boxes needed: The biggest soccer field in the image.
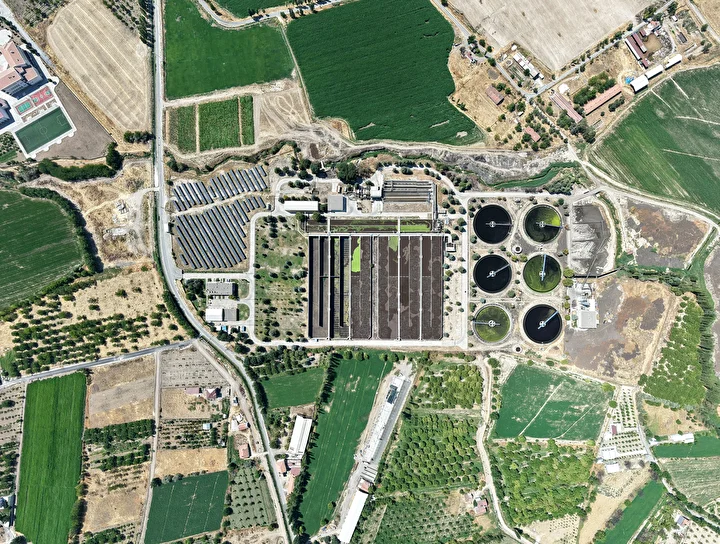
[15,108,72,153]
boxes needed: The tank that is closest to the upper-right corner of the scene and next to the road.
[522,205,562,244]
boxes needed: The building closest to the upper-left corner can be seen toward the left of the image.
[0,40,38,97]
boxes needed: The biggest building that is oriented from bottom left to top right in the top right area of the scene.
[584,84,623,115]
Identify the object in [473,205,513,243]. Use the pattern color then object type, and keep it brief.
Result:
black storage tank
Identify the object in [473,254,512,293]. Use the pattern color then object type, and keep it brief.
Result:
black storage tank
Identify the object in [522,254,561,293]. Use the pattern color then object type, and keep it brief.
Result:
green storage tank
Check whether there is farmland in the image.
Yes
